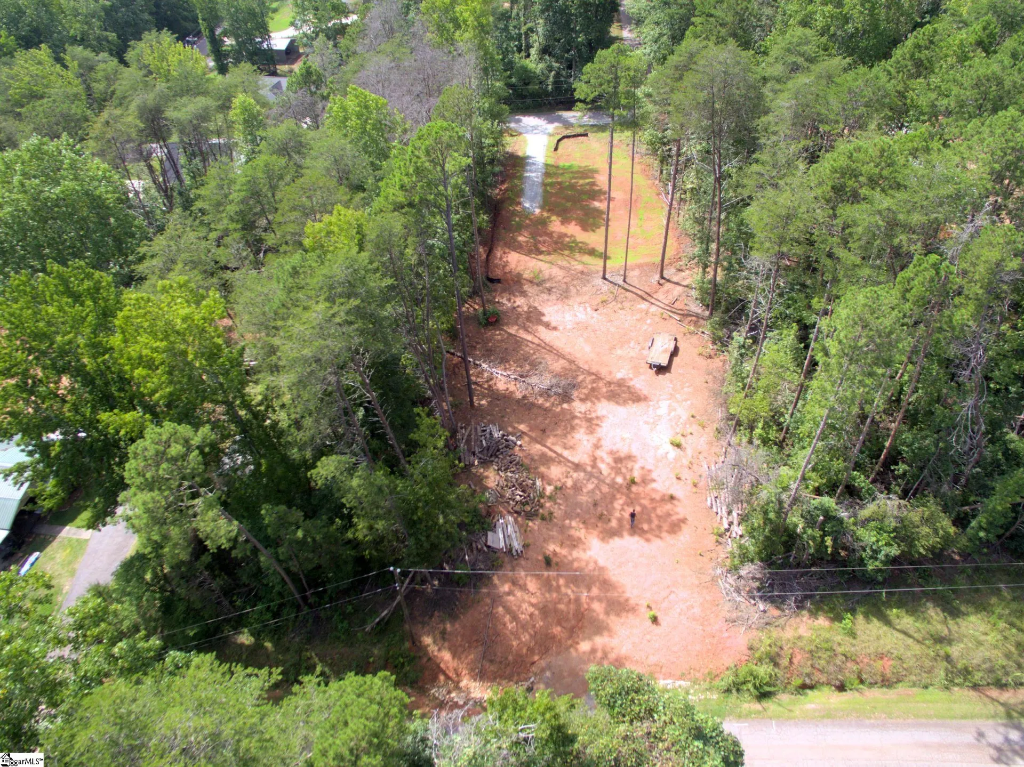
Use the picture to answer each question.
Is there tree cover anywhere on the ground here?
Yes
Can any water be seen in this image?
No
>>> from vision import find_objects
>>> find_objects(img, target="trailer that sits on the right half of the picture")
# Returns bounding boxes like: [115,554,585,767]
[644,333,677,376]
